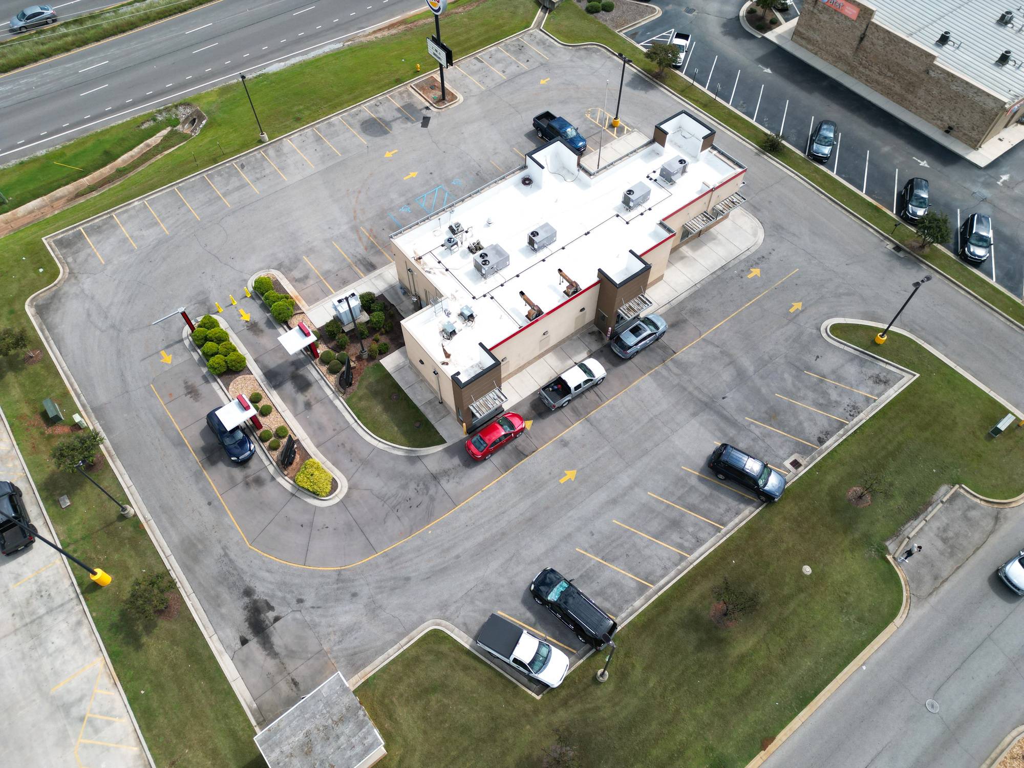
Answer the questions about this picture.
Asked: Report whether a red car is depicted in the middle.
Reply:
Yes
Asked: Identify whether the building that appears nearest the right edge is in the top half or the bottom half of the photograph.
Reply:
top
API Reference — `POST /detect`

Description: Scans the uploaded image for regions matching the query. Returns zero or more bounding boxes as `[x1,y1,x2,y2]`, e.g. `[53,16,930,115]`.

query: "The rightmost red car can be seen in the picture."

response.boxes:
[461,410,528,464]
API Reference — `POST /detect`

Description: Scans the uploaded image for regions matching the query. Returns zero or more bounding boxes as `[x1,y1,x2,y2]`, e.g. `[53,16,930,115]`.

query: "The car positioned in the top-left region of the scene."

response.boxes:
[8,6,59,31]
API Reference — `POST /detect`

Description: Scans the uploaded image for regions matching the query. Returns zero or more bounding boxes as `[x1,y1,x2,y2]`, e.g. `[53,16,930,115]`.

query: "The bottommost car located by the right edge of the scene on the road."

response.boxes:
[997,535,1024,592]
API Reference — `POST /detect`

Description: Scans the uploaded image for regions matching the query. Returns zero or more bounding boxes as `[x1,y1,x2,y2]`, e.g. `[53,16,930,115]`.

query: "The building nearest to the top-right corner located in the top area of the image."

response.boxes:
[792,0,1024,148]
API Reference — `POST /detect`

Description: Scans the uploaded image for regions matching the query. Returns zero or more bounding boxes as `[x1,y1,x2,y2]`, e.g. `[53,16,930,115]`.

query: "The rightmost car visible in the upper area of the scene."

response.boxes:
[963,211,999,261]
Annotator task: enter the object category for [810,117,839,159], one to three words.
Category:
car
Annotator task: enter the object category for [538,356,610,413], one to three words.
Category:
truck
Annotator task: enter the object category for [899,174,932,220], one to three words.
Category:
car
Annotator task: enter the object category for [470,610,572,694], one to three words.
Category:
truck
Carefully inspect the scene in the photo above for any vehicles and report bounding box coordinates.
[810,117,839,159]
[899,174,932,220]
[997,535,1024,592]
[530,110,584,151]
[538,356,610,413]
[710,445,787,505]
[8,6,59,31]
[667,31,691,66]
[609,313,670,361]
[461,410,528,464]
[204,399,251,460]
[963,211,999,261]
[470,610,572,694]
[529,568,624,658]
